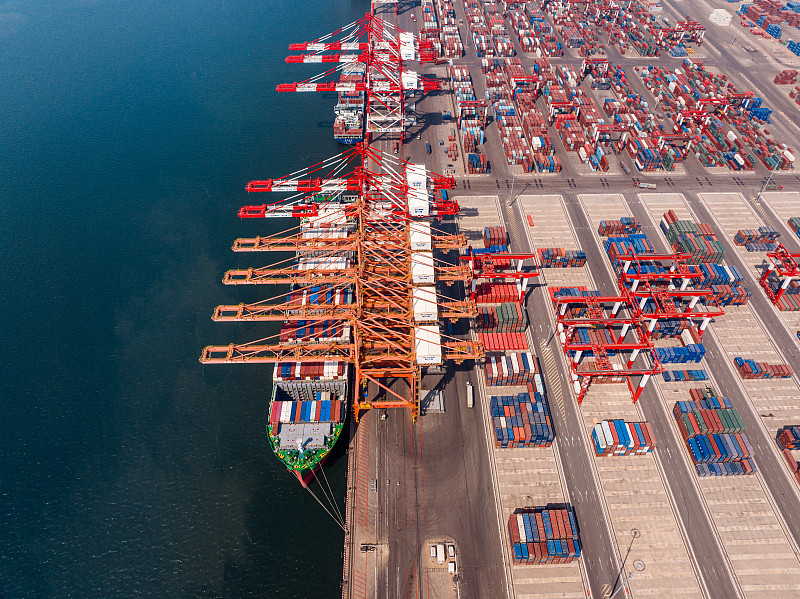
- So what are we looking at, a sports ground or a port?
port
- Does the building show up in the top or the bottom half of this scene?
top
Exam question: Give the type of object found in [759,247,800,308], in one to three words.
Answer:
container crane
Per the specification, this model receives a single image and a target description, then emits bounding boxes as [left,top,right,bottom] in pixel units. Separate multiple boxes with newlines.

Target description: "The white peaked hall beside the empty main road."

[709,5,737,26]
